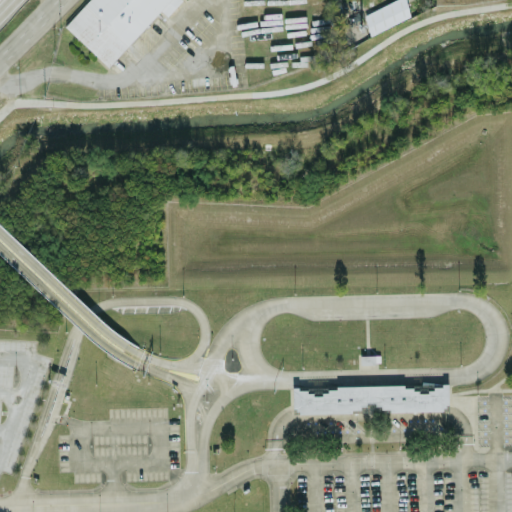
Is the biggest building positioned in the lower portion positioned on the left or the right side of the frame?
right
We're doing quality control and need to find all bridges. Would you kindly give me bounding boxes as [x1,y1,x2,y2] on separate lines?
[0,228,156,373]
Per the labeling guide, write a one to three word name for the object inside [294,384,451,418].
building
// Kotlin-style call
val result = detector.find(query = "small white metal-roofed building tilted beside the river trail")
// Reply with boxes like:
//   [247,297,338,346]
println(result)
[366,0,412,37]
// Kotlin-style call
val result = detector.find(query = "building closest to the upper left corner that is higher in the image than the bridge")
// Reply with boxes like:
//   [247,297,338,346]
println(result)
[66,0,186,68]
